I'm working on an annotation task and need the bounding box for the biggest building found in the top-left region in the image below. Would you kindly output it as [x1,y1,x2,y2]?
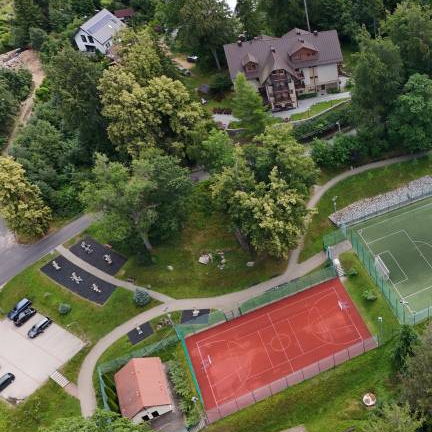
[70,9,129,60]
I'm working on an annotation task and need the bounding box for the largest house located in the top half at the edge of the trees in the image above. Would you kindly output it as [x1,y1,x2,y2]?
[224,18,343,109]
